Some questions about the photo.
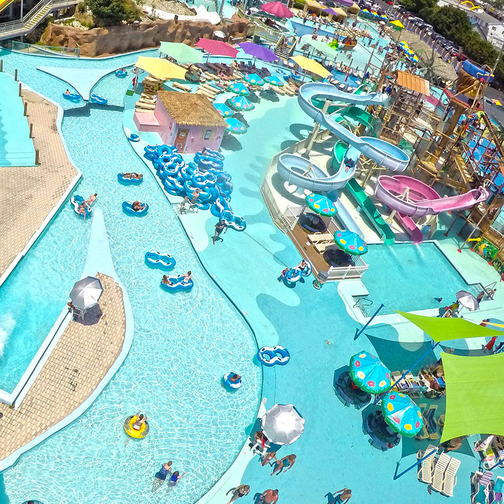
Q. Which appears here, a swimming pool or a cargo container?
swimming pool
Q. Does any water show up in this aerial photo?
Yes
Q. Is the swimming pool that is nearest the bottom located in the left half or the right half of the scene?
right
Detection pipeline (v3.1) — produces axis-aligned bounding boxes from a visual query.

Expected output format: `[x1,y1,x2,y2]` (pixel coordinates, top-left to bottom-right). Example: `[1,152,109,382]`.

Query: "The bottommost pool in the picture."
[352,243,490,317]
